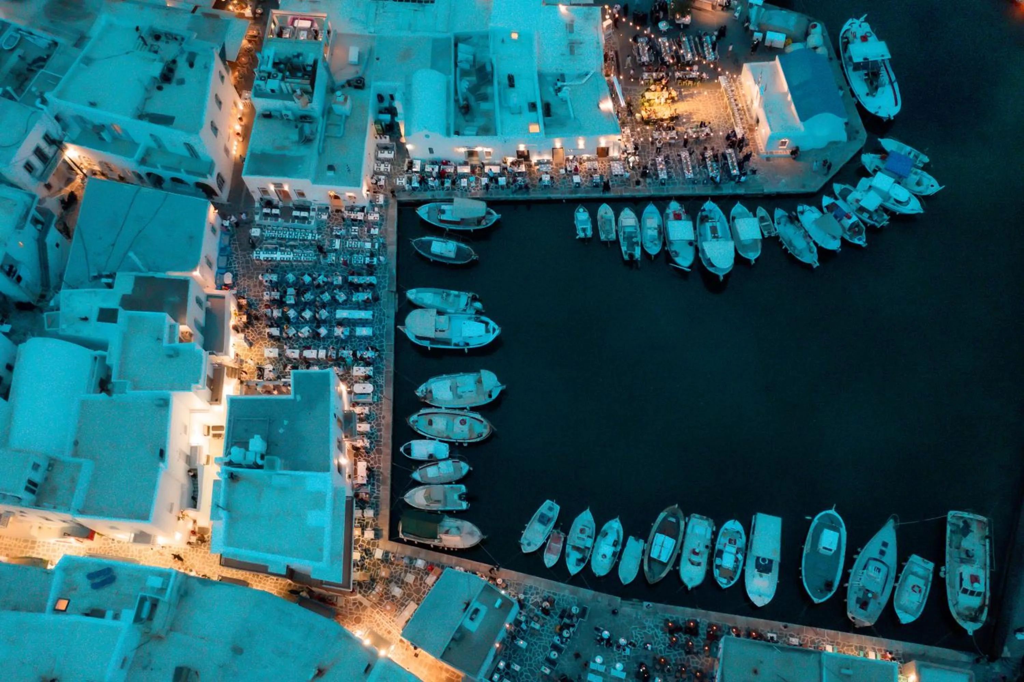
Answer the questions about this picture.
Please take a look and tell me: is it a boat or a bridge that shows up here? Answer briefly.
boat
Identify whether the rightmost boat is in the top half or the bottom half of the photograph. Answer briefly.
bottom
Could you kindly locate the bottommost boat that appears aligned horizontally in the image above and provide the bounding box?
[397,513,520,572]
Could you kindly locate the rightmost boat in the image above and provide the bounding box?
[940,513,991,656]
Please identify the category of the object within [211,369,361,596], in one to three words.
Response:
house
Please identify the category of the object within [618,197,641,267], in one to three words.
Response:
boat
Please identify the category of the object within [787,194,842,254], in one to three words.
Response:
boat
